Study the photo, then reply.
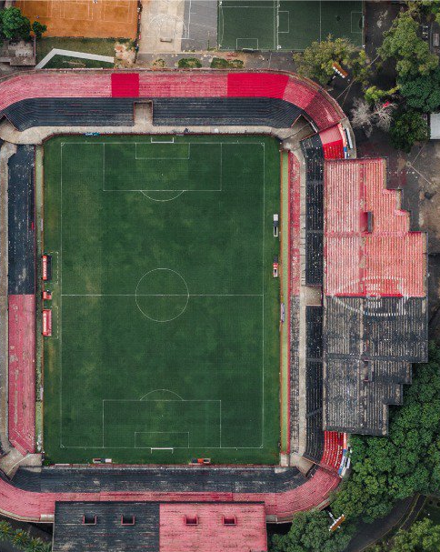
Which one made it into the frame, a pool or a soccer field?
soccer field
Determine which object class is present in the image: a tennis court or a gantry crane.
tennis court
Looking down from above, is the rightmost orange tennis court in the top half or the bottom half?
top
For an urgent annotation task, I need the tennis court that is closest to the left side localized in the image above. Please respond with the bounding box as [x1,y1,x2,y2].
[16,0,56,37]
